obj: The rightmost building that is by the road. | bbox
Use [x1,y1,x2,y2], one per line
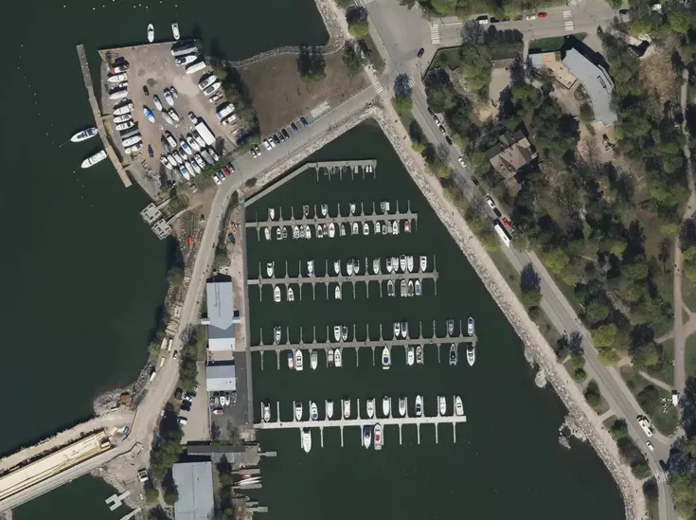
[563,48,618,124]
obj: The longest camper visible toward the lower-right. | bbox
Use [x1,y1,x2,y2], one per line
[637,416,653,437]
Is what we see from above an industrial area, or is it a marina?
marina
